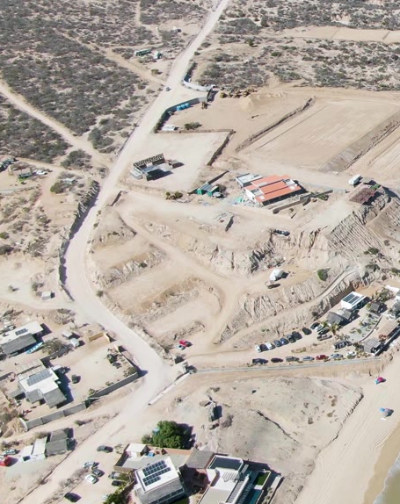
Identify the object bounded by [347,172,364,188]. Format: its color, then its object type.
white vehicle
